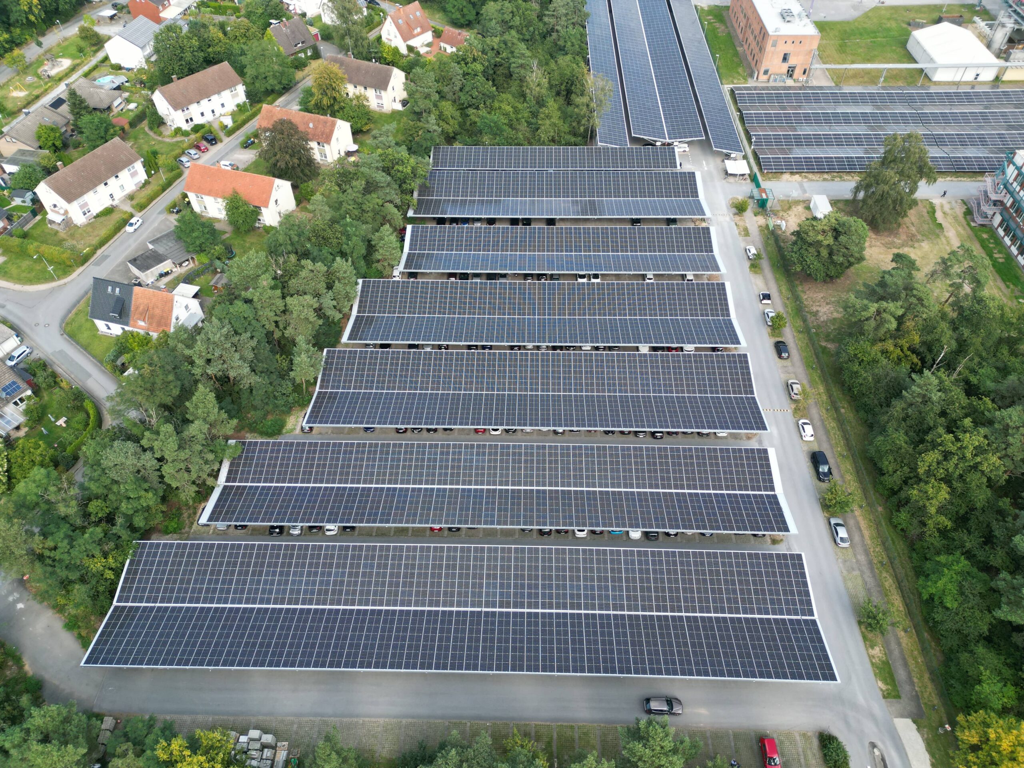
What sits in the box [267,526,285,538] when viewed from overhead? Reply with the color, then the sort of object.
black vehicle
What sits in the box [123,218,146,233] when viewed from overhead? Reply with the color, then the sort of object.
white car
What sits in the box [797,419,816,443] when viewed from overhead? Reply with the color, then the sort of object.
white car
